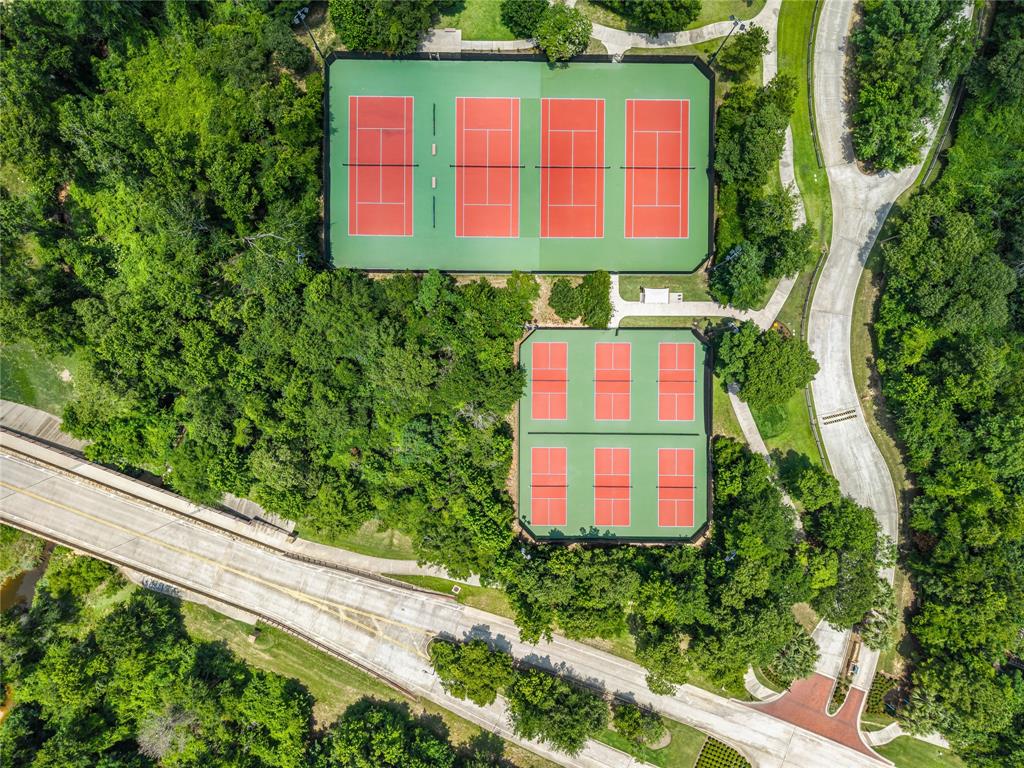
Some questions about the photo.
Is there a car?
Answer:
No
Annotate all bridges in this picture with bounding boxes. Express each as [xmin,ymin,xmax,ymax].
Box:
[0,426,285,620]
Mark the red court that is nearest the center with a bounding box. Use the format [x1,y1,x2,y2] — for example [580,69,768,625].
[531,342,568,421]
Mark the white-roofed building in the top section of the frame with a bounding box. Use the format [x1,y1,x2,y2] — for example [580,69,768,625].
[645,287,672,304]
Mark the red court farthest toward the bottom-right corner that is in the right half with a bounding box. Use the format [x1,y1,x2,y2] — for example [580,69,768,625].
[658,448,695,527]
